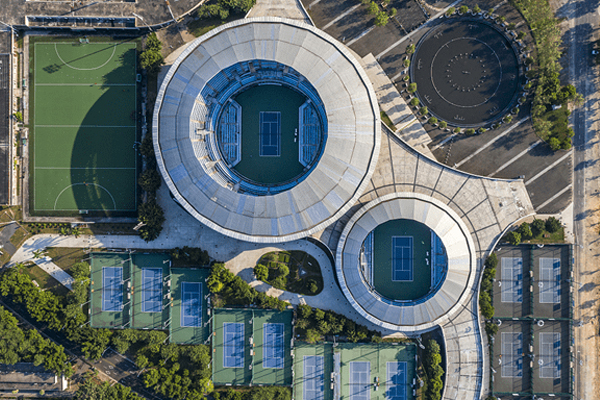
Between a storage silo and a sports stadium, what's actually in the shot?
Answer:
sports stadium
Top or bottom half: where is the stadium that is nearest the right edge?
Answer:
bottom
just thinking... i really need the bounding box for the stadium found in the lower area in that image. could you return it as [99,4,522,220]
[336,192,475,331]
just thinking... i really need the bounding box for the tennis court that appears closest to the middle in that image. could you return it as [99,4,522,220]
[259,111,281,156]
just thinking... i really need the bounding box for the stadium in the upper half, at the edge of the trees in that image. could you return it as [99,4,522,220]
[152,16,380,244]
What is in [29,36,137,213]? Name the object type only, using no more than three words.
sports field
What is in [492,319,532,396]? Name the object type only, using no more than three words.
tennis court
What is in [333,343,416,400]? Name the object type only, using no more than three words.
tennis court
